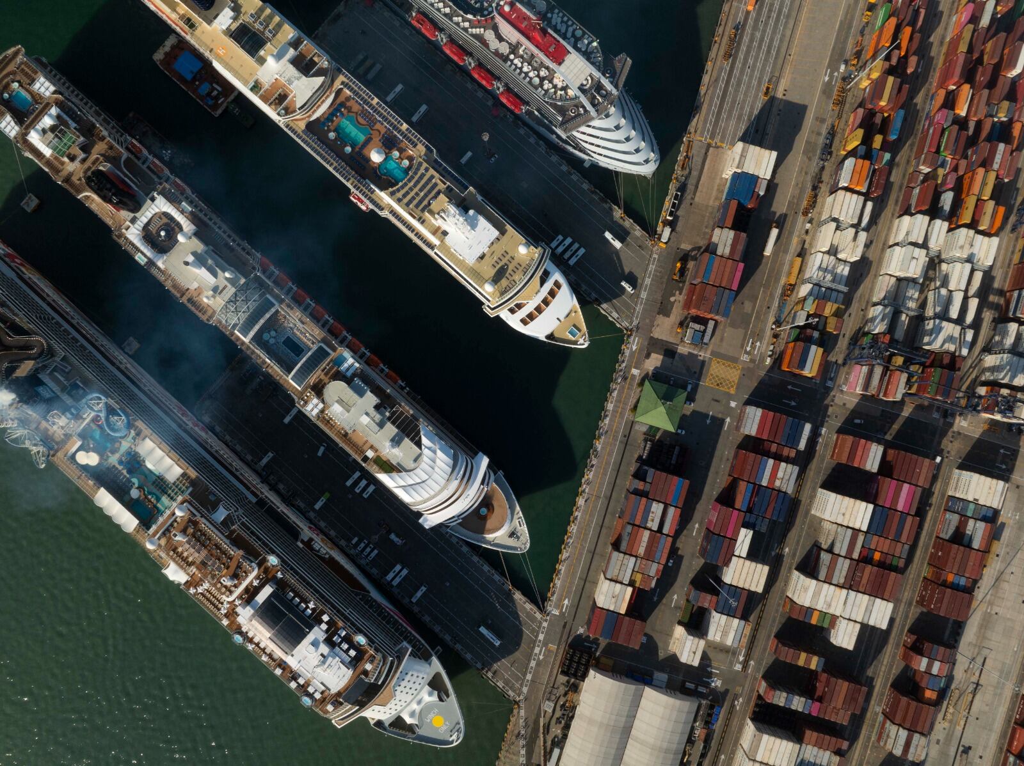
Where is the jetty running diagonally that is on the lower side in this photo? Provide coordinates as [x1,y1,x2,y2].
[197,351,542,700]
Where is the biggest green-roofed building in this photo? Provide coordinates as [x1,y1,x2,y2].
[632,379,688,432]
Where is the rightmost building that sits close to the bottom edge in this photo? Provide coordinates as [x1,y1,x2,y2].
[558,662,699,766]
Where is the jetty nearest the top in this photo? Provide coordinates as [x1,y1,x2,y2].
[312,0,652,328]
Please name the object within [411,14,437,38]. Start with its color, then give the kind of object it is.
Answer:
red boat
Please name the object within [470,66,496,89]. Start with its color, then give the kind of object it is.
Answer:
red boat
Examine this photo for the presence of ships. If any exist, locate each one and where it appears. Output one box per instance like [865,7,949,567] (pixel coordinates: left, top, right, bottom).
[367,0,660,179]
[0,45,530,554]
[152,33,242,119]
[125,111,184,168]
[0,237,465,749]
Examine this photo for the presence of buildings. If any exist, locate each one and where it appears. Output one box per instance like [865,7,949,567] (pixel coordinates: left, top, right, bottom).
[632,379,688,432]
[558,662,699,766]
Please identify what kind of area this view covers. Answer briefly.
port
